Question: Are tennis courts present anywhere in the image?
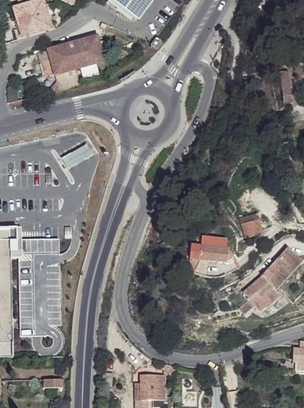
No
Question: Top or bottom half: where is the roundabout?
top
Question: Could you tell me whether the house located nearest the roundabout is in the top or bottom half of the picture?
top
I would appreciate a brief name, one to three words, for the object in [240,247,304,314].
house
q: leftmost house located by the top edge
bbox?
[12,0,54,35]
